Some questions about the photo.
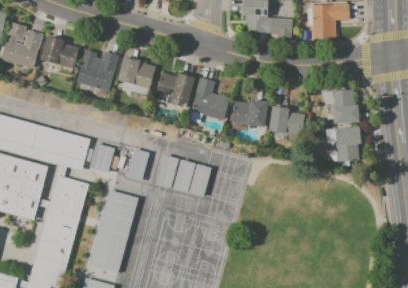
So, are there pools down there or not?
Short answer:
Yes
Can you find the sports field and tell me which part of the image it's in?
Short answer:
bottom right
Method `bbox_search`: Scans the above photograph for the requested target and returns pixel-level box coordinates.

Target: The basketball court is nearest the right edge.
[188,220,229,288]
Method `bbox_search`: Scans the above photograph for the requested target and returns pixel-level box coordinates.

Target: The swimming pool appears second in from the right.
[191,112,226,136]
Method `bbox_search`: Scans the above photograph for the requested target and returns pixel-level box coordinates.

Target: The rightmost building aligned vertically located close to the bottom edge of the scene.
[87,192,138,274]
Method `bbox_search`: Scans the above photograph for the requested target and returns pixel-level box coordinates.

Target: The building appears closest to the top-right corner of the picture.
[312,4,350,38]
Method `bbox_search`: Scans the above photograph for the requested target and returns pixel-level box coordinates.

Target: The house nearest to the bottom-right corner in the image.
[328,127,360,161]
